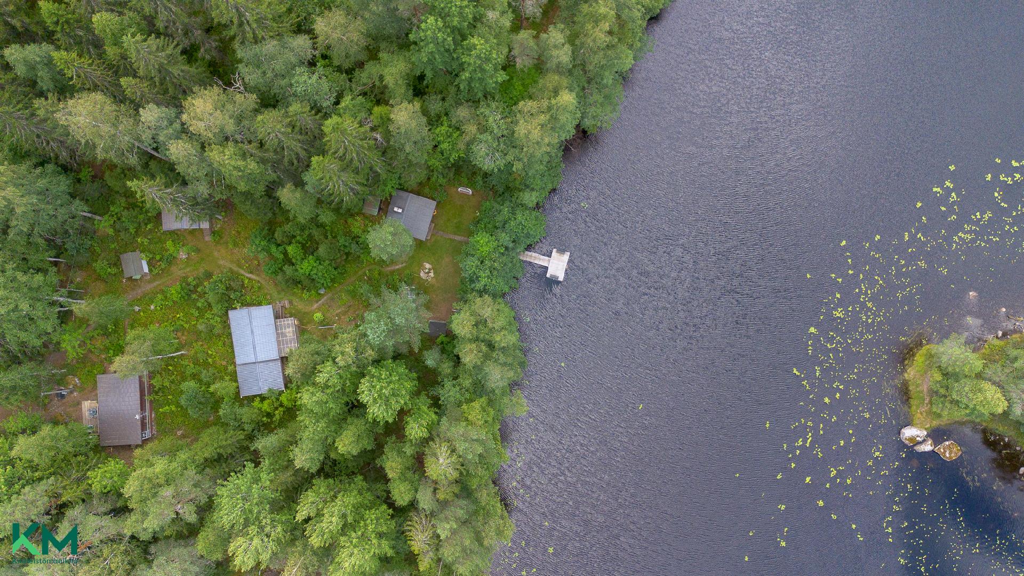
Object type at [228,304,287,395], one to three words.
building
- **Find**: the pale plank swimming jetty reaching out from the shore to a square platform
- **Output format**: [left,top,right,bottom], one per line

[524,248,570,282]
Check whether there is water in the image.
Yes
